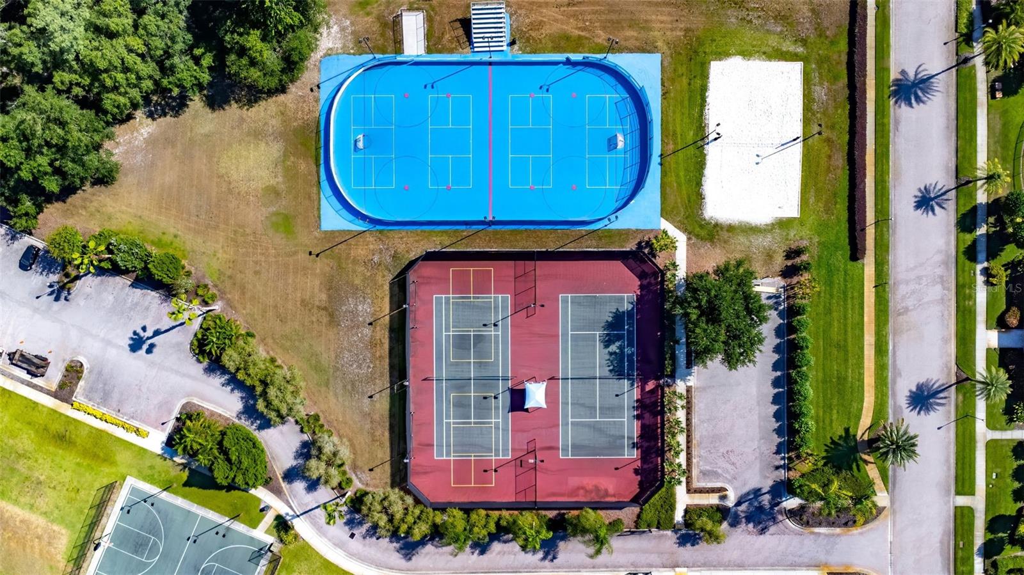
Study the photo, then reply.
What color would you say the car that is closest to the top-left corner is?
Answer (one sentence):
In this view, the car that is closest to the top-left corner is black.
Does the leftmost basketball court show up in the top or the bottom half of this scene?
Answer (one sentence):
The bottom half of the photo is where the leftmost basketball court is.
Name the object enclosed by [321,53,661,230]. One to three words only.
sports court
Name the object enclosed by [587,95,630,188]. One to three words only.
sports court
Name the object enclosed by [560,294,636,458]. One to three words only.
tennis court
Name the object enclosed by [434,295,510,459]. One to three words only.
tennis court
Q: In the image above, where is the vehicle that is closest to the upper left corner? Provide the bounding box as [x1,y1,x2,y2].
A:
[15,243,38,272]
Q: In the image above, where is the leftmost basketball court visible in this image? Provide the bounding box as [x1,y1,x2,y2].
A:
[86,476,277,575]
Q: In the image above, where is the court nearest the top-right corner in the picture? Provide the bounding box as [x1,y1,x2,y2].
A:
[703,56,803,223]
